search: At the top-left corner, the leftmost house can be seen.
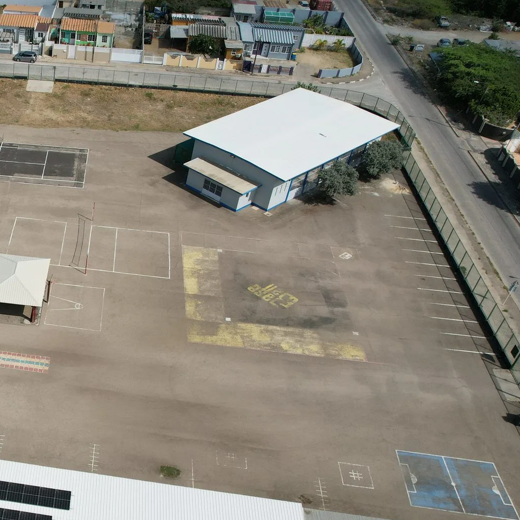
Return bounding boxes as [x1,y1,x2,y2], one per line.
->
[0,4,56,46]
